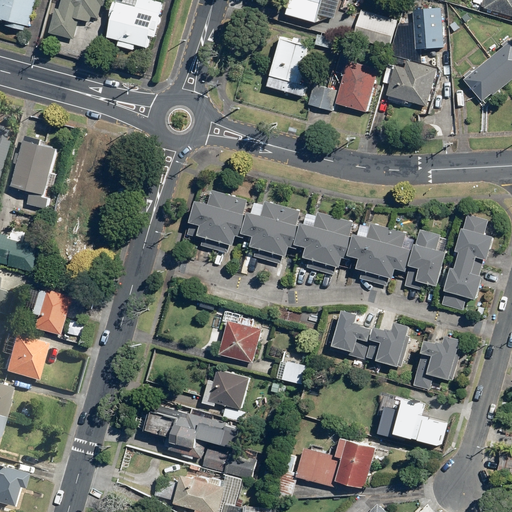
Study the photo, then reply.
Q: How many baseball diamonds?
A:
zero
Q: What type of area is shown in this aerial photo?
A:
residential area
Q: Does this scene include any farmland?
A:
No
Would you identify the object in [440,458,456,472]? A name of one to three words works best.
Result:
vehicle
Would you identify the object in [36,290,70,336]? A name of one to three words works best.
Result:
house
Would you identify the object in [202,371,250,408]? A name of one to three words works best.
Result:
house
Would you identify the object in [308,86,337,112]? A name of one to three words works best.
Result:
building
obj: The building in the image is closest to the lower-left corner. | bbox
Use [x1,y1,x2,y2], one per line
[0,462,32,508]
